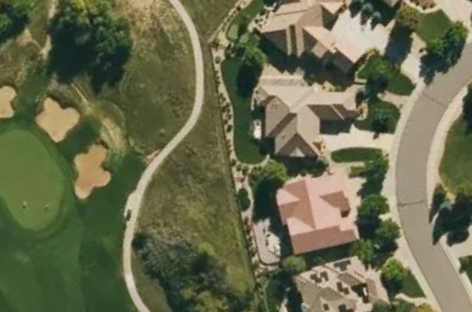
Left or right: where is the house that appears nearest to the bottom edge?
right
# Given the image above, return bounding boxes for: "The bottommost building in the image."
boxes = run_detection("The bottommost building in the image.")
[296,256,391,312]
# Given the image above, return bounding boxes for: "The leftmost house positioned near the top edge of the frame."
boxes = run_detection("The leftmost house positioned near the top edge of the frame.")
[257,0,370,71]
